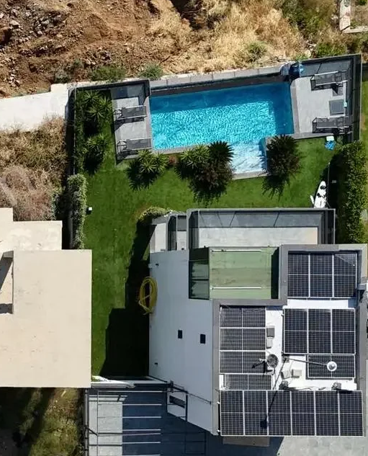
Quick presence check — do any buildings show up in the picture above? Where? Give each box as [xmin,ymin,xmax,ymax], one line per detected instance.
[0,207,91,387]
[143,208,367,446]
